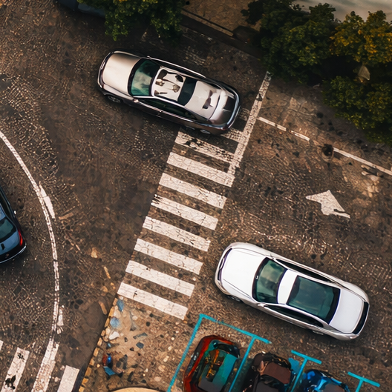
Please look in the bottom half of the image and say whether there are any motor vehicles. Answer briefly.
Yes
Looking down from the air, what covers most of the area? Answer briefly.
paved ground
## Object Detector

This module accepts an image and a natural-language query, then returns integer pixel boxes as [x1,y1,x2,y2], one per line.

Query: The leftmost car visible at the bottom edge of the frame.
[164,329,241,392]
